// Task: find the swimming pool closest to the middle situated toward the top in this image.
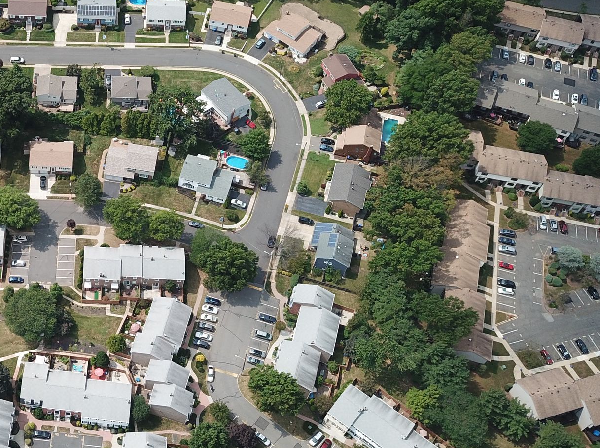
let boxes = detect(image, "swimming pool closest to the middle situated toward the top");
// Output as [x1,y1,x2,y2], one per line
[225,156,249,171]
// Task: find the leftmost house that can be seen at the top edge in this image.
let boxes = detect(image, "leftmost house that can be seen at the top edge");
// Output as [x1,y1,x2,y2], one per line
[7,0,47,32]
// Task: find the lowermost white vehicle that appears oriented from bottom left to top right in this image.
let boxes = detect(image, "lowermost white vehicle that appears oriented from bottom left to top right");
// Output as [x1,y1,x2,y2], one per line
[308,428,324,448]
